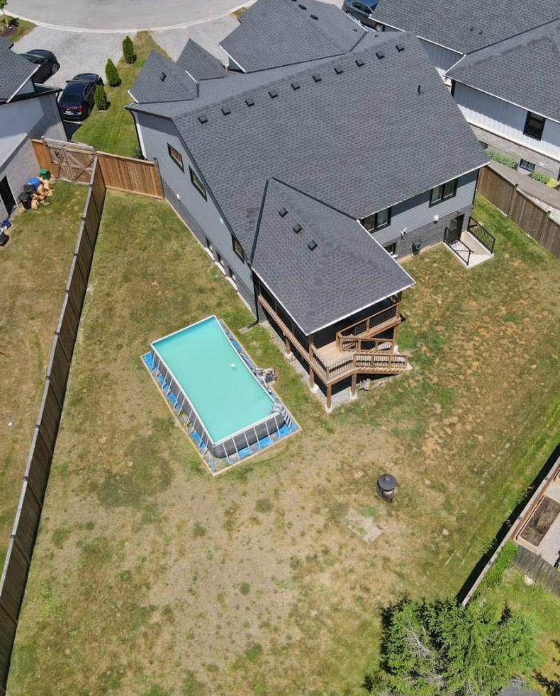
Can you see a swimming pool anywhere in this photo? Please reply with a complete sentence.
Yes, there is a swimming pool in the image.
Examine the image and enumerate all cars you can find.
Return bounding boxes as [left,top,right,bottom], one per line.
[27,51,58,84]
[342,0,381,29]
[52,66,101,115]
